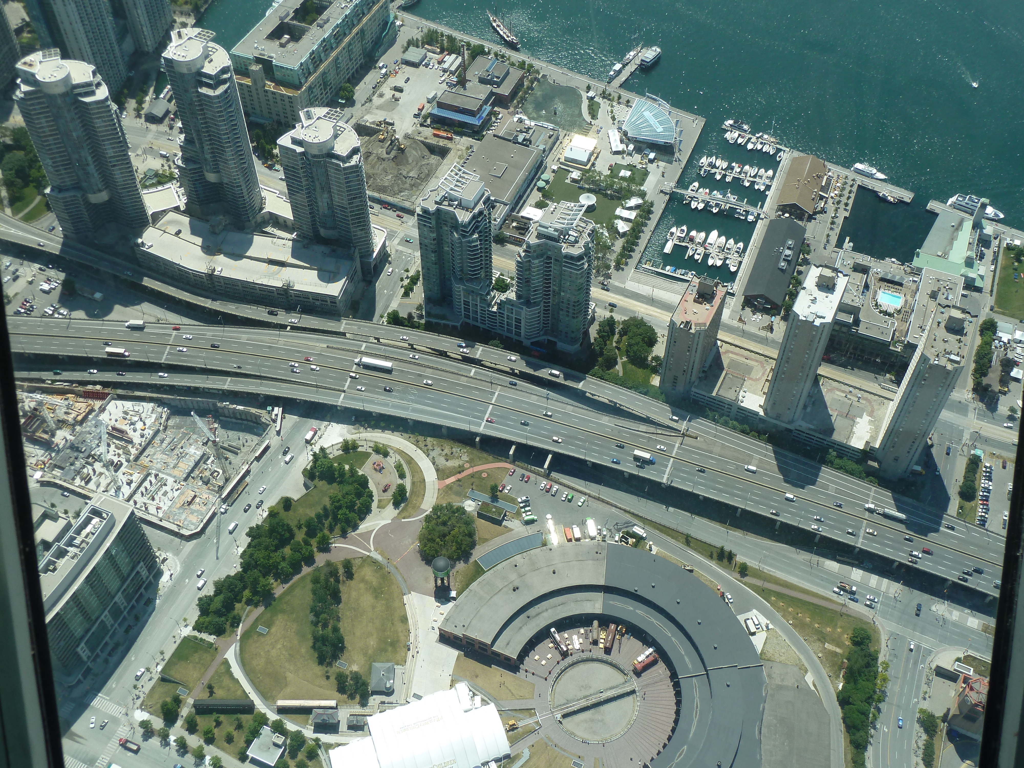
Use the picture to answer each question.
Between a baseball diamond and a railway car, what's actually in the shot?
railway car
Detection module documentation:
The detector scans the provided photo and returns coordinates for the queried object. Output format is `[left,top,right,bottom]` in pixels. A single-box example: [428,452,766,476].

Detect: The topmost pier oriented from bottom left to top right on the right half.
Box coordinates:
[611,47,647,88]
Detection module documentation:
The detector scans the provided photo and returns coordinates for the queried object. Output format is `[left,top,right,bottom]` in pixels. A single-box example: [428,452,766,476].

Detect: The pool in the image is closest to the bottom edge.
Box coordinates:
[878,291,902,306]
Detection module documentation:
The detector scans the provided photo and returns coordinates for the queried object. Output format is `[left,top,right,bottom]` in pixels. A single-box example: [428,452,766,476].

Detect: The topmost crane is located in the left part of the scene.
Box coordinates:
[16,390,73,434]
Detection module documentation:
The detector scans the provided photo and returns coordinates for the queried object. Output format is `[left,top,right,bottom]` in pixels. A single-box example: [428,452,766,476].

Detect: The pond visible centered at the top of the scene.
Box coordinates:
[521,76,591,135]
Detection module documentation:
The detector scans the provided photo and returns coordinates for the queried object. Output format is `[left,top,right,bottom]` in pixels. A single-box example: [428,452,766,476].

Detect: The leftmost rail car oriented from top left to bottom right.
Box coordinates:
[549,625,569,654]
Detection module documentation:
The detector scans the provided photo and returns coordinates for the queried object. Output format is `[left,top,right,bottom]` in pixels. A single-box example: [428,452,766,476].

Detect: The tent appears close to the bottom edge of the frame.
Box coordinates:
[334,672,516,768]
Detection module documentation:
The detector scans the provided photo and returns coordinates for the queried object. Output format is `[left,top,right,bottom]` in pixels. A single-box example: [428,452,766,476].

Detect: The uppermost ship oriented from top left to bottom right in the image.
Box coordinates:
[488,3,523,46]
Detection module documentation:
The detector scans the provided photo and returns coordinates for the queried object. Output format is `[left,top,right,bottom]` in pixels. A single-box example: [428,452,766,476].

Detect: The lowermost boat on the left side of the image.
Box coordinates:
[157,84,171,98]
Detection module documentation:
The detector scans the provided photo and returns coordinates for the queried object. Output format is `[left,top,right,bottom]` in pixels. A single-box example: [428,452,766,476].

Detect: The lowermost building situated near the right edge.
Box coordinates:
[942,674,989,746]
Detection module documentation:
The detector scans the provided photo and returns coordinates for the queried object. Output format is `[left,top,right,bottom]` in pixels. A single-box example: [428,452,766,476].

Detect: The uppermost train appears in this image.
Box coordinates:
[879,380,899,393]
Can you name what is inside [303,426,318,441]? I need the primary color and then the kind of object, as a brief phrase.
white vehicle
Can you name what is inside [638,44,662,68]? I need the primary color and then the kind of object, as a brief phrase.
white vessel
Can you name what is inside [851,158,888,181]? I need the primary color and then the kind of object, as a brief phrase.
white vessel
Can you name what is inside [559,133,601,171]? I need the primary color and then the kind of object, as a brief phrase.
white tent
